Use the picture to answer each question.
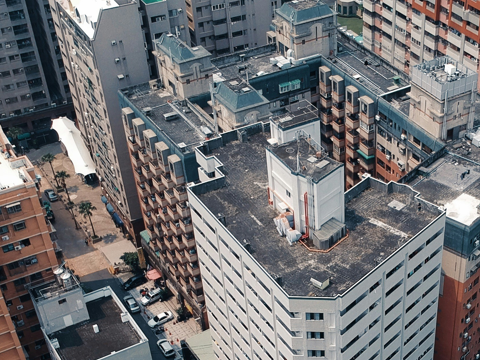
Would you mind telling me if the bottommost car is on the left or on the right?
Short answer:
left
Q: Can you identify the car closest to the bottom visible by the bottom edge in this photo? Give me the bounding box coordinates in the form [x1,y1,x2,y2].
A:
[156,337,177,360]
